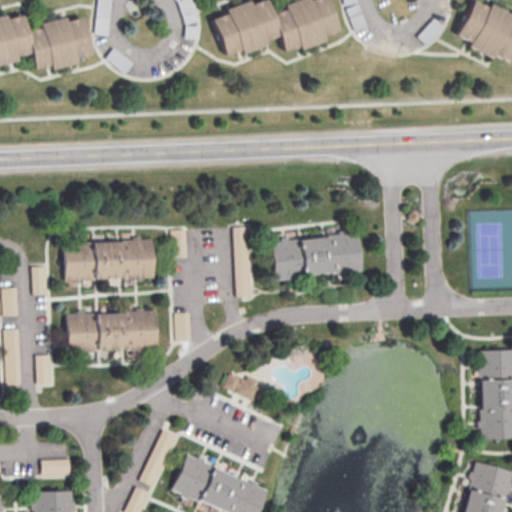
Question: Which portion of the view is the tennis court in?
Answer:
right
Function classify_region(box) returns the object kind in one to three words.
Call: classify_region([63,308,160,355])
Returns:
building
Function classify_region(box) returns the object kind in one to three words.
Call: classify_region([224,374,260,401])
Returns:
building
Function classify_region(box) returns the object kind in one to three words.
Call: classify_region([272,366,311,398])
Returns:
swimming pool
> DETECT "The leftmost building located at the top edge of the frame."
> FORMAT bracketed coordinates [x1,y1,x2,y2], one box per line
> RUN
[0,13,94,74]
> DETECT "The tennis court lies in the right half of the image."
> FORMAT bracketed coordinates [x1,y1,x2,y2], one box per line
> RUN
[468,210,512,290]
